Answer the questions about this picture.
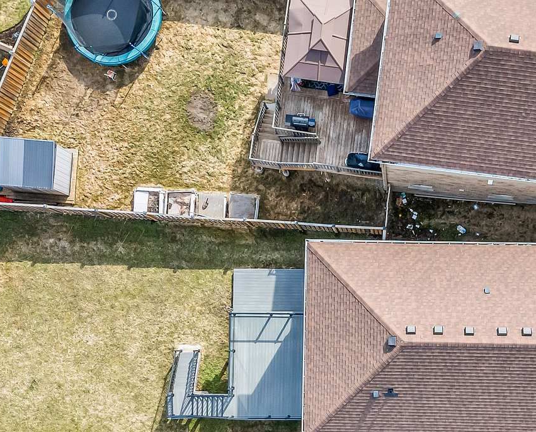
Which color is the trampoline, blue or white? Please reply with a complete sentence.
The color of the trampoline is blue.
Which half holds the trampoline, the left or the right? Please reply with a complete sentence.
The trampoline appears in the left half of the scene.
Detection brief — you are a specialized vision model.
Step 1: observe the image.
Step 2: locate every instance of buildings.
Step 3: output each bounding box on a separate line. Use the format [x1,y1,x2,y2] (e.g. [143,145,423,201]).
[0,137,79,203]
[300,237,536,432]
[342,0,536,211]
